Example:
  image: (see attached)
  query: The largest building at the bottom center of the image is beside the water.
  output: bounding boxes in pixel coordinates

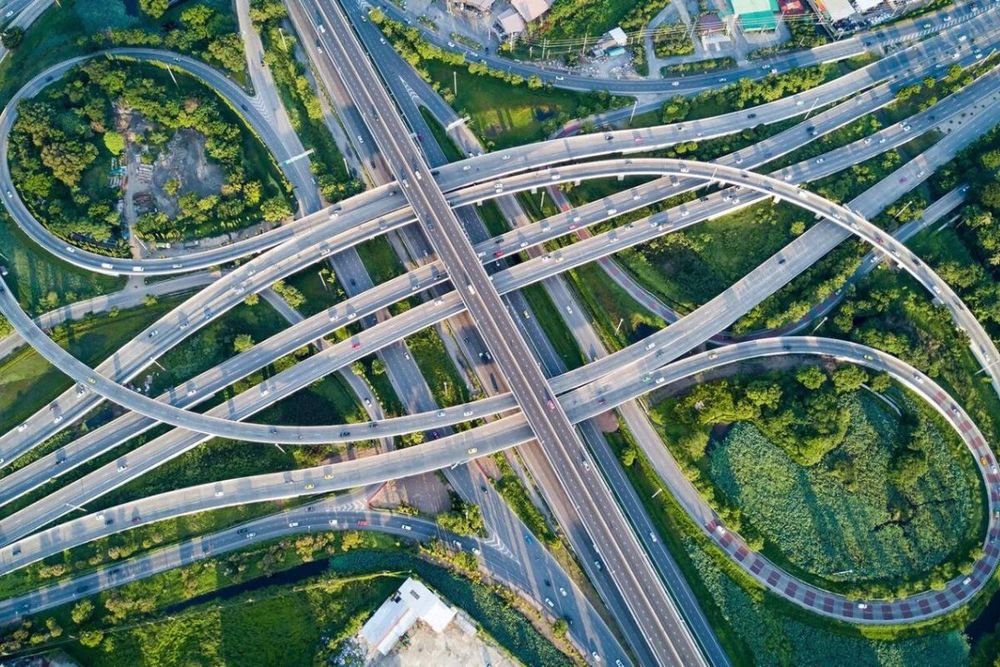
[359,577,456,655]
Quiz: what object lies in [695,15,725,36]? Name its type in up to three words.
house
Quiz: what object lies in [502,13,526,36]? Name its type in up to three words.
house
